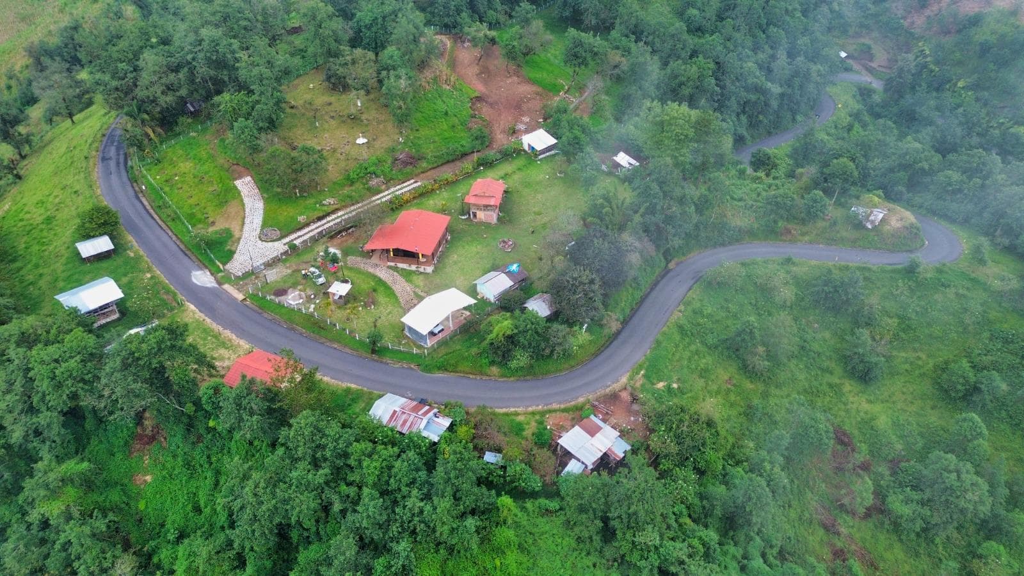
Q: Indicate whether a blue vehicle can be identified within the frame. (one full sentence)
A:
No, the frame has no blue vehicle in it.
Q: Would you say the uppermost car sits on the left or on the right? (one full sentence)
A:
The uppermost car sits on the left side.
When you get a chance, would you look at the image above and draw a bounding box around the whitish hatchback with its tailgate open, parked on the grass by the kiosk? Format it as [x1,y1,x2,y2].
[301,259,327,285]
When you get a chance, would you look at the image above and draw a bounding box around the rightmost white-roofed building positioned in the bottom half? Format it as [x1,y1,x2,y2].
[558,414,632,481]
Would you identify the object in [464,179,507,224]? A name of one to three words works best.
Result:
house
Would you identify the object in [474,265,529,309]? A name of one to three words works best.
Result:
shed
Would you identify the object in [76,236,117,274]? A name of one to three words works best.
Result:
shed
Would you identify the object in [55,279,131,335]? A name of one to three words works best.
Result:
building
